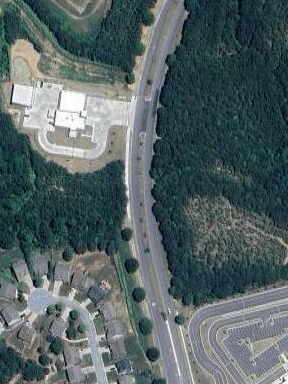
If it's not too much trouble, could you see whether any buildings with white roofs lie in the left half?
Yes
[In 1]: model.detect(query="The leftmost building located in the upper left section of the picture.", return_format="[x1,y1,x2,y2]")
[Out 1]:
[12,85,33,108]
